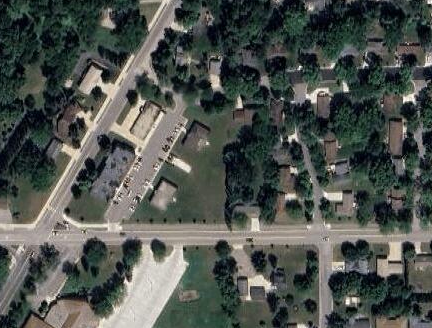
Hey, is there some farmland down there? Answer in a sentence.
No, there is no farmland in the image.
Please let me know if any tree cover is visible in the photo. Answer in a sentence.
Yes, some tree cover is visible.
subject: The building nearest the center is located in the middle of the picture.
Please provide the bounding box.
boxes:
[184,122,208,150]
